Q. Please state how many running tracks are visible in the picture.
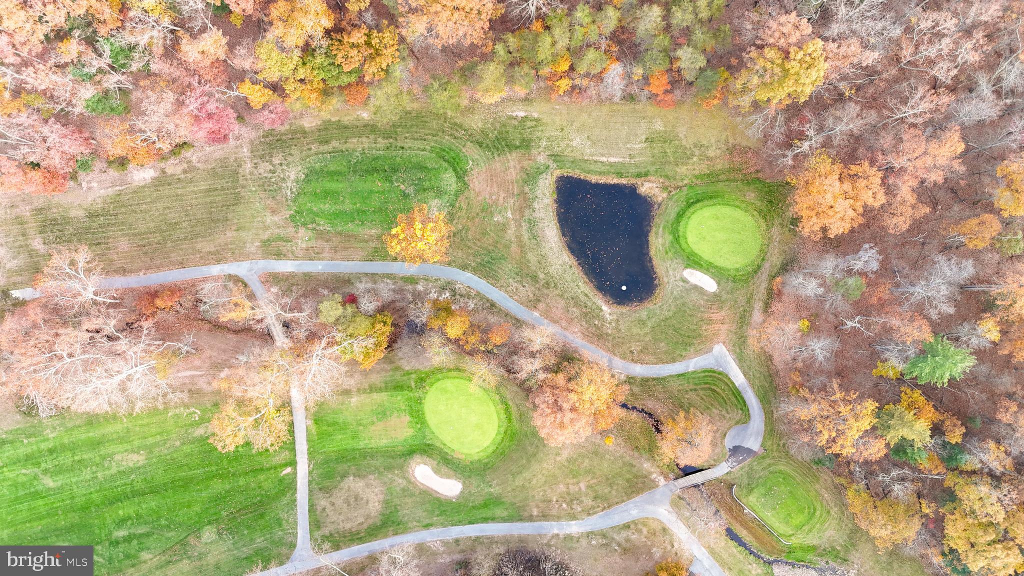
0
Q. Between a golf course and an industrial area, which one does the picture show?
golf course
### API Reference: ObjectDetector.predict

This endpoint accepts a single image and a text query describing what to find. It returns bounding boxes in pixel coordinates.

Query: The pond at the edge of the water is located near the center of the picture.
[553,173,657,305]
